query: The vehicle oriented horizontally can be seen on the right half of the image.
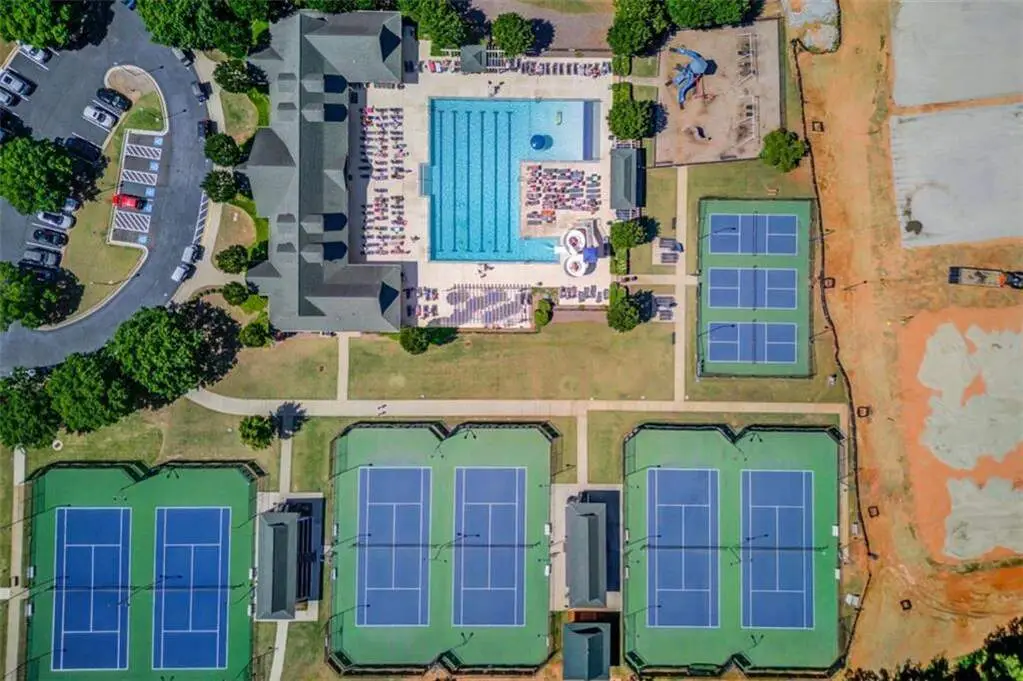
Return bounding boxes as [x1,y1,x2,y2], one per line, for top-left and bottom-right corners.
[949,265,1023,290]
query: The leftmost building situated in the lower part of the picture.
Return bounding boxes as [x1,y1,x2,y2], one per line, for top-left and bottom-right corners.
[258,510,317,618]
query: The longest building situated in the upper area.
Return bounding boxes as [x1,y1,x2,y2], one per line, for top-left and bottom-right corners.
[235,10,403,333]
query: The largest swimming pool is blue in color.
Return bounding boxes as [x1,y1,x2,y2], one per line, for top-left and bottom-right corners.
[418,96,602,264]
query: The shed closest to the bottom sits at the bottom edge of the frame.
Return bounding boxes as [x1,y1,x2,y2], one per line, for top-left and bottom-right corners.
[564,616,610,681]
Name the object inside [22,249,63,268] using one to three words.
vehicle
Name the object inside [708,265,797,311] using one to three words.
sports court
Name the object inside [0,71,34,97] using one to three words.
car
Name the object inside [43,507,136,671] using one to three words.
tennis court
